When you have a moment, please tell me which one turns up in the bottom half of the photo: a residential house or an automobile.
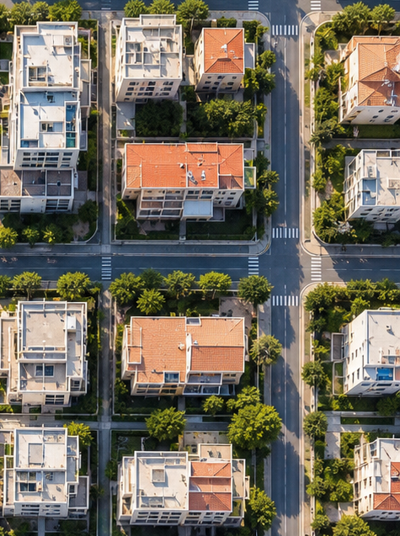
residential house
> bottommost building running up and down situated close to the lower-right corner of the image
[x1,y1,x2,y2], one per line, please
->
[351,423,400,525]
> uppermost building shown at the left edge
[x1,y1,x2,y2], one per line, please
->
[0,21,92,211]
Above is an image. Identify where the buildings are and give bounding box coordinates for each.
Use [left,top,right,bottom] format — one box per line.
[346,148,400,227]
[339,34,400,130]
[121,443,251,524]
[330,309,400,398]
[0,21,92,211]
[119,313,244,399]
[120,141,257,223]
[0,423,89,515]
[351,423,400,525]
[109,13,182,100]
[194,27,255,91]
[0,295,88,408]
